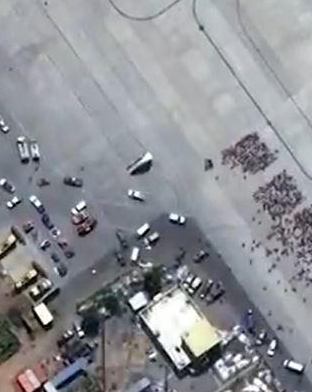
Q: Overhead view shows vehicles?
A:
Yes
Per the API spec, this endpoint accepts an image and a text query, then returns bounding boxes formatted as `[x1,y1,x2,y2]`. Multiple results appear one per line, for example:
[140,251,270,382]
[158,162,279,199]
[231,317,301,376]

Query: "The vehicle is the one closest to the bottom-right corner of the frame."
[283,359,304,372]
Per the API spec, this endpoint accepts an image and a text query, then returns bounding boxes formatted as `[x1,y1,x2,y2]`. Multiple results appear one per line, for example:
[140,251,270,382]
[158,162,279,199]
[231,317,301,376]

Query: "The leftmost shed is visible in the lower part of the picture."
[16,369,40,392]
